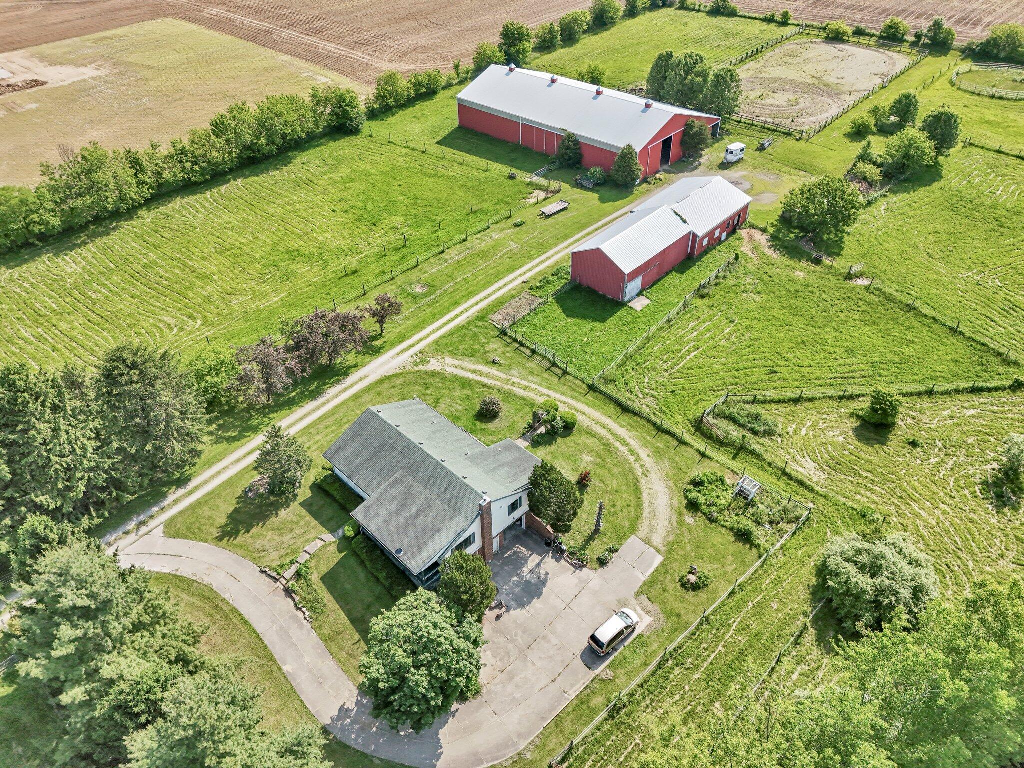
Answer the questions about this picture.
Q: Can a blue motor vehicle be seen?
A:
No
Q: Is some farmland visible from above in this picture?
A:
Yes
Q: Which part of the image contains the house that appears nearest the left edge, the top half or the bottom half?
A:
bottom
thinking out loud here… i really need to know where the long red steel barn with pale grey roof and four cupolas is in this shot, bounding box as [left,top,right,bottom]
[456,66,723,180]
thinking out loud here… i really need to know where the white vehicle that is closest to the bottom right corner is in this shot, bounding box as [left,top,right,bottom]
[588,604,640,654]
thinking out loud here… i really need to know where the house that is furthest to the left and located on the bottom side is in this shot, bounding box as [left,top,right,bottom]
[322,401,552,606]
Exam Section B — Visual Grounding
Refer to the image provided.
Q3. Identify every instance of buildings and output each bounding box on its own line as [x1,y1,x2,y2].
[322,401,552,606]
[570,175,755,302]
[456,66,723,180]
